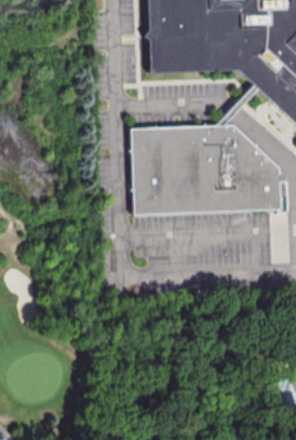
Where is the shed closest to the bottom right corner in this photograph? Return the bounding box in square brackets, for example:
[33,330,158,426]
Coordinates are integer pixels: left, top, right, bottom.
[280,380,296,408]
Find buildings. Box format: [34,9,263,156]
[280,380,296,408]
[148,0,296,122]
[132,124,290,215]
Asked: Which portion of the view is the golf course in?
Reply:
bottom left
